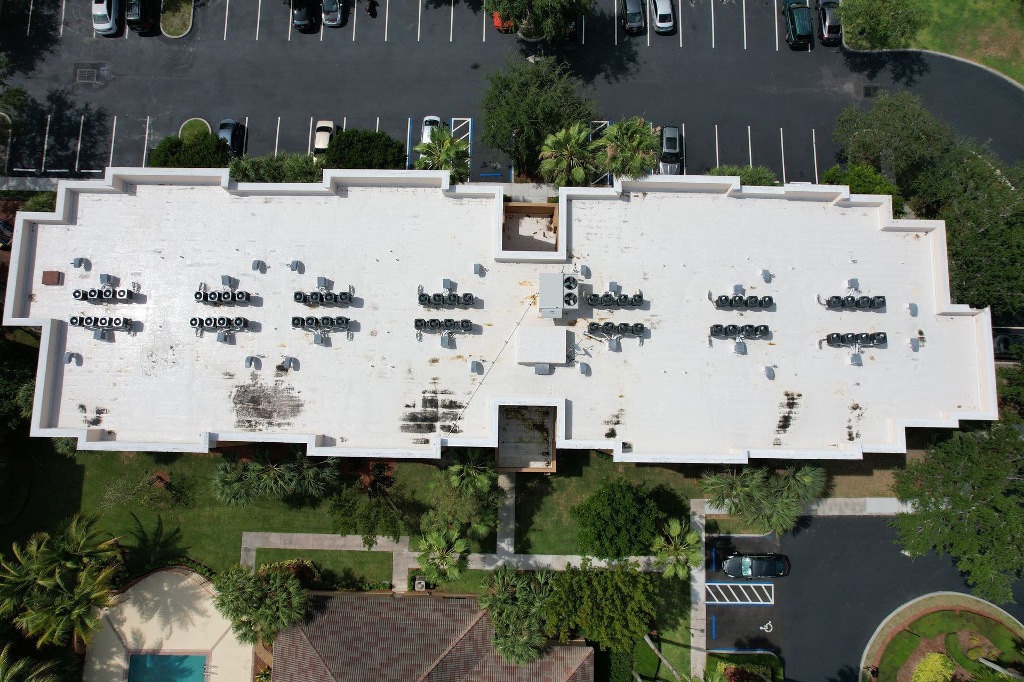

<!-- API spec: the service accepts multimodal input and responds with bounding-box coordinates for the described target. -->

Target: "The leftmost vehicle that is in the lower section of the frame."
[728,552,792,581]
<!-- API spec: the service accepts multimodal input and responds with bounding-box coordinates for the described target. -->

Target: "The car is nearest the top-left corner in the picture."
[93,0,121,36]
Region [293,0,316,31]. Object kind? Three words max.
car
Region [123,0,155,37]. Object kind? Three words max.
truck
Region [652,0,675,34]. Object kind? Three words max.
car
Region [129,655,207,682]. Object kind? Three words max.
swimming pool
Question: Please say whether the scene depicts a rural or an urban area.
urban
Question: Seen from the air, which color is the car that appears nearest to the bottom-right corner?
black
